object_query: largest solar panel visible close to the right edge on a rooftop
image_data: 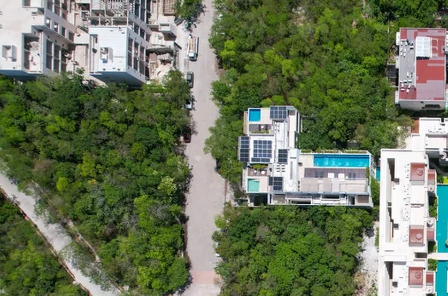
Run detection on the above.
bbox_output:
[416,37,430,57]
